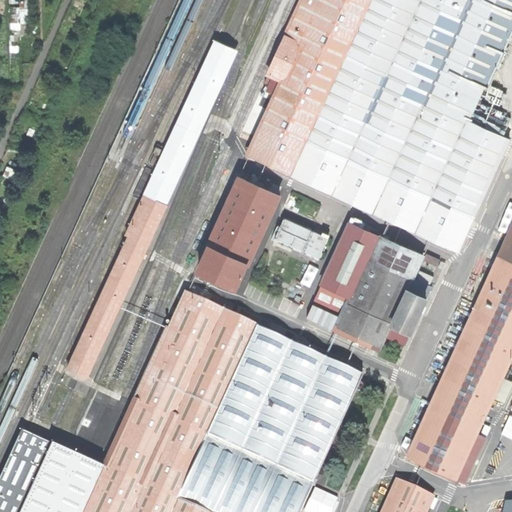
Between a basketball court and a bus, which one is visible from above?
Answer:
bus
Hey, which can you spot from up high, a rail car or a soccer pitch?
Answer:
rail car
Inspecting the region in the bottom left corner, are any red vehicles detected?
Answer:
No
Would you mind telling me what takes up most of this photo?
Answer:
buildings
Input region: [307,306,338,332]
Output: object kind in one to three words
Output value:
shed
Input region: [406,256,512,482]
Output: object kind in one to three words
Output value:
building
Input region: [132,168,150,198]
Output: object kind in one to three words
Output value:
rail car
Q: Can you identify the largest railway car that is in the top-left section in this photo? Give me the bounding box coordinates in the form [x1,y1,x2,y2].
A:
[122,90,147,135]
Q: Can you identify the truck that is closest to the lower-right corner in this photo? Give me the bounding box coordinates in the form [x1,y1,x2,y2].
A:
[487,440,508,472]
